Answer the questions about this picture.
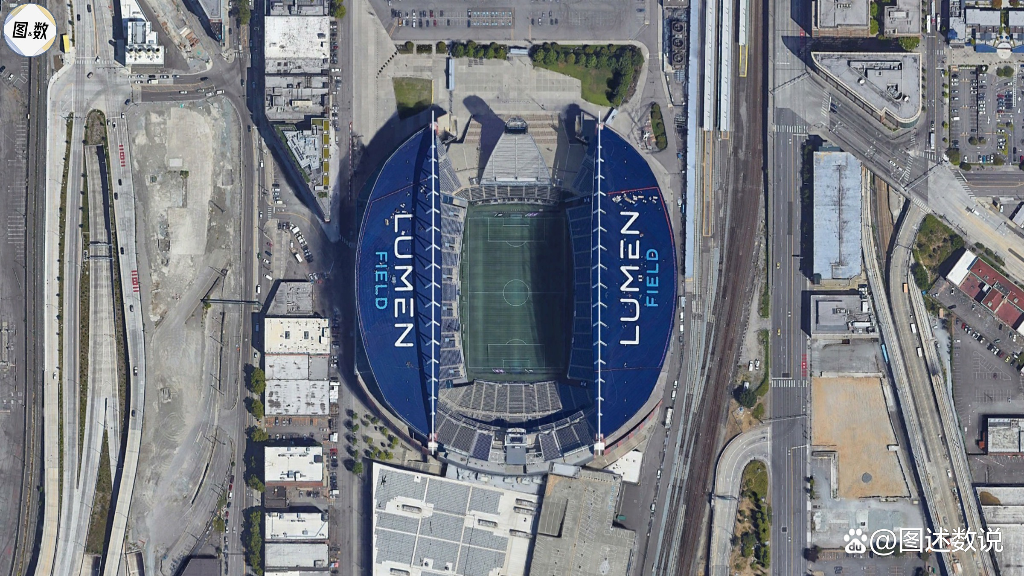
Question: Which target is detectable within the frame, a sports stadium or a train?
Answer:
sports stadium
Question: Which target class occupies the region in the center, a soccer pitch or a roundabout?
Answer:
soccer pitch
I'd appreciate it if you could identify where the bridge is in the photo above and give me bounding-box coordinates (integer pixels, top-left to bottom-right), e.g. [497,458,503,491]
[889,199,977,576]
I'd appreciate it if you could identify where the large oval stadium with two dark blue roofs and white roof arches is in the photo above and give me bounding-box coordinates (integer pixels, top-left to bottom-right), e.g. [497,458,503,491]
[355,111,678,479]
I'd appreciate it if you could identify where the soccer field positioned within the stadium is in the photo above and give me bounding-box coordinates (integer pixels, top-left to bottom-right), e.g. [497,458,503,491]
[459,204,575,384]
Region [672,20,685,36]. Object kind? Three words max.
cooling tower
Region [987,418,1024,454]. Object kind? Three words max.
building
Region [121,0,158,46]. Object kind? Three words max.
building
